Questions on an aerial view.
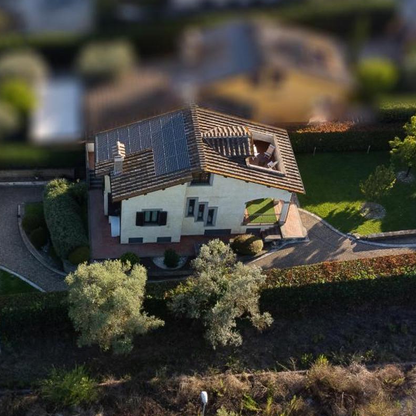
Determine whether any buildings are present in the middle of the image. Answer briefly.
Yes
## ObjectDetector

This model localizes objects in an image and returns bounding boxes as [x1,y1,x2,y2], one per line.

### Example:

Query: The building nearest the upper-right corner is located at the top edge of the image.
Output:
[174,19,357,125]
